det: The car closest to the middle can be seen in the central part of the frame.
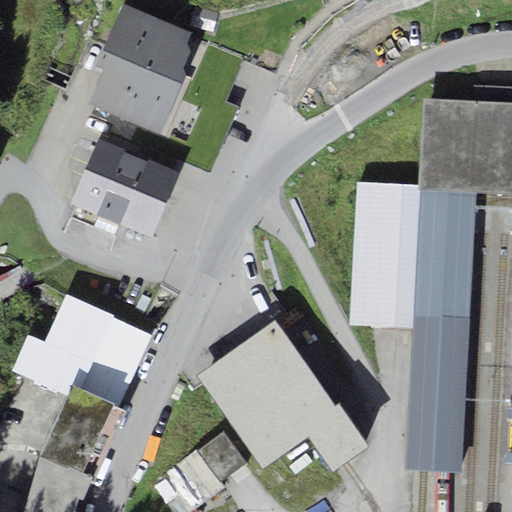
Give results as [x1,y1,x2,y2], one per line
[244,254,256,278]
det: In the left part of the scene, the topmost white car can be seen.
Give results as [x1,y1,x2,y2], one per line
[82,42,100,71]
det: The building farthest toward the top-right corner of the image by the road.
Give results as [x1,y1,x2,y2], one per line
[419,98,512,194]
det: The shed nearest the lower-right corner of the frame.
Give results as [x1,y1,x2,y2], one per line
[405,316,470,473]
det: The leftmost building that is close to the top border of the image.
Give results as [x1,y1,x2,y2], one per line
[89,4,193,136]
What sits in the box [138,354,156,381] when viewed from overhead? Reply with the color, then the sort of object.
white vehicle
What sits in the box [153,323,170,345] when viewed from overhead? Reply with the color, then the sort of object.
white car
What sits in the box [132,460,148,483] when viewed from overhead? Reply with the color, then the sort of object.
white vehicle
